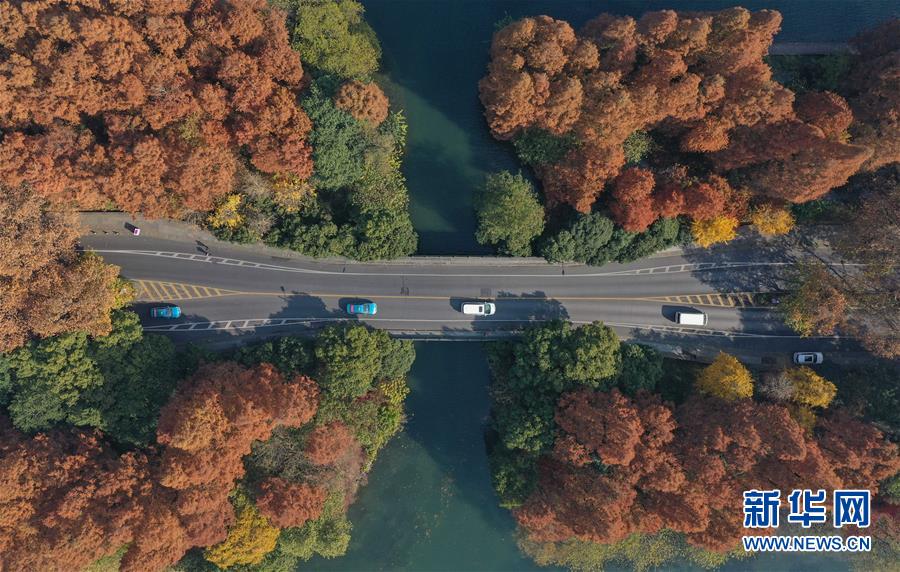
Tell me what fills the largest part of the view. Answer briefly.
trees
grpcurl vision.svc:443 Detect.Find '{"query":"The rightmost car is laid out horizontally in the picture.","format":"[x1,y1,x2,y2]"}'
[795,351,825,365]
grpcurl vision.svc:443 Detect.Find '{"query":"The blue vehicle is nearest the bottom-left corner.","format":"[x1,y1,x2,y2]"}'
[149,306,181,319]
